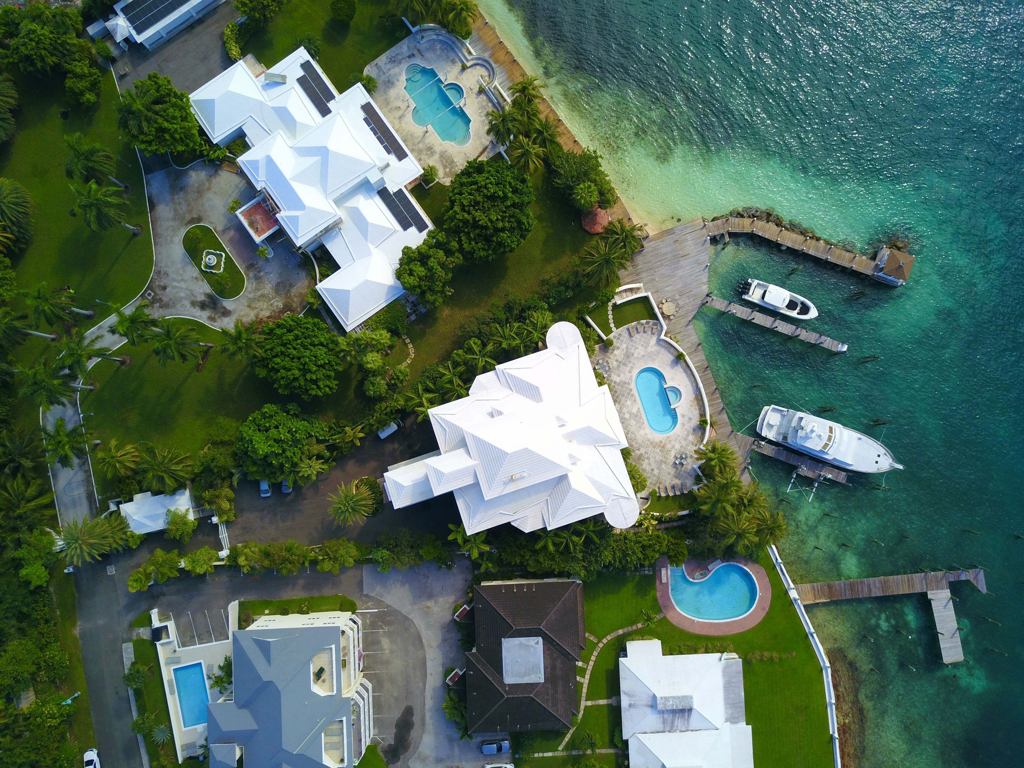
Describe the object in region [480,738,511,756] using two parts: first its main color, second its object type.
blue car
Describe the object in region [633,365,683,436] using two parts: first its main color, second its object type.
blue swimming pool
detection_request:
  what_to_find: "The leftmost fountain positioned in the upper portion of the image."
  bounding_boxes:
[201,249,226,273]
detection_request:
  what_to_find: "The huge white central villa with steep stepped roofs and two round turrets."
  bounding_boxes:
[384,320,641,536]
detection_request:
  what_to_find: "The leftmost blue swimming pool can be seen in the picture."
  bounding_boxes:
[171,659,211,731]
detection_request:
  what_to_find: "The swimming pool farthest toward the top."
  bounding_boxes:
[401,61,474,148]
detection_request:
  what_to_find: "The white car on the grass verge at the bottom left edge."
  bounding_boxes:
[81,745,102,768]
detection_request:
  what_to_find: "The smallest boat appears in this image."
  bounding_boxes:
[738,279,818,319]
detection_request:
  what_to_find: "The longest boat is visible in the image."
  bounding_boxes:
[756,402,904,473]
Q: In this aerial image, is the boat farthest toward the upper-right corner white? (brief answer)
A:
Yes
